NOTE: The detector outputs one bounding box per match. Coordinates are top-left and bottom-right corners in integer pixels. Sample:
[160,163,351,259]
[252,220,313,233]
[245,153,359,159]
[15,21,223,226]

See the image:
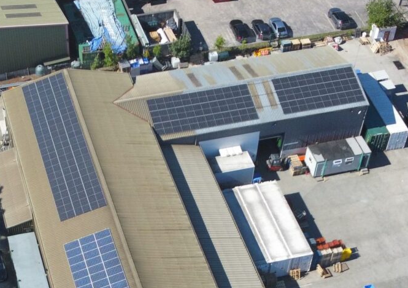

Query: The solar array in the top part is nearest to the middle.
[153,84,262,138]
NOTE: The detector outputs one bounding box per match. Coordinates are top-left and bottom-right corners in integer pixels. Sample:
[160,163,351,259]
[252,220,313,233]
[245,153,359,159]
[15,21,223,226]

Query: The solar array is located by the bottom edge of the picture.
[63,227,130,288]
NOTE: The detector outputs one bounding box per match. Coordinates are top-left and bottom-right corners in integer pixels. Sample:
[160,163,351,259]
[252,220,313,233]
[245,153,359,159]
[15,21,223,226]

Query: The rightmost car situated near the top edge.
[329,8,353,30]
